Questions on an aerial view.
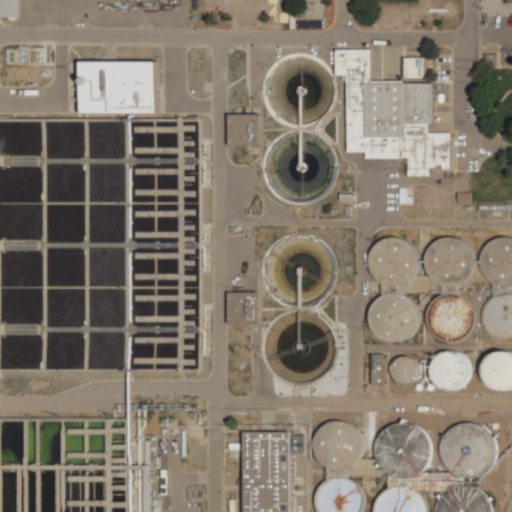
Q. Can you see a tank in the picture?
Yes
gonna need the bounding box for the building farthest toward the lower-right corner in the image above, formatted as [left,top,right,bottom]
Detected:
[388,476,467,492]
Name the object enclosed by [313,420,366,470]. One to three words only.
storage tank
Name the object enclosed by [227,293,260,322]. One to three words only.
building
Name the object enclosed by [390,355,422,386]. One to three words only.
storage tank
